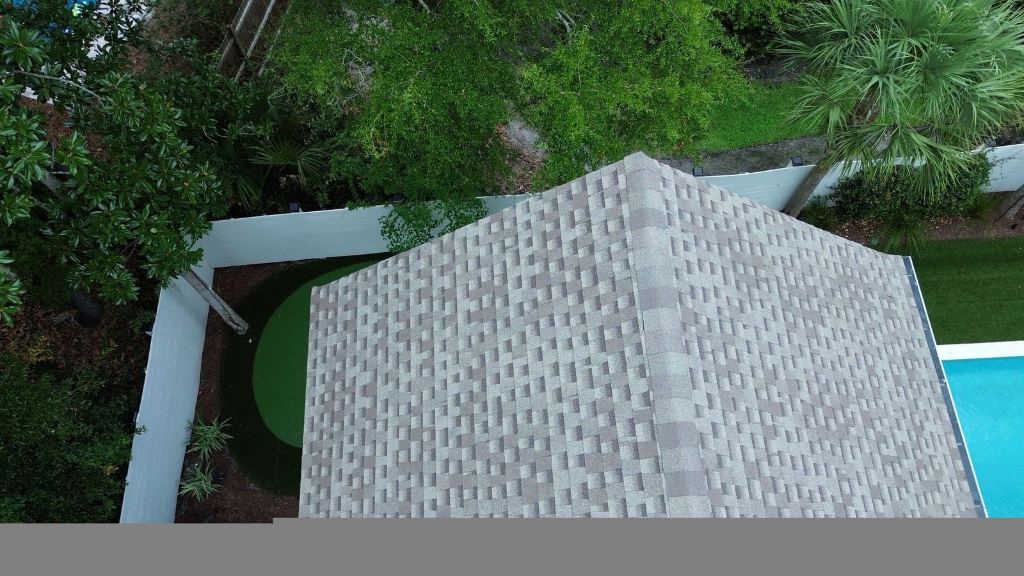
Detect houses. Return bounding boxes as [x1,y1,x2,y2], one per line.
[296,155,1015,576]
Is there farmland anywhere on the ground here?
No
